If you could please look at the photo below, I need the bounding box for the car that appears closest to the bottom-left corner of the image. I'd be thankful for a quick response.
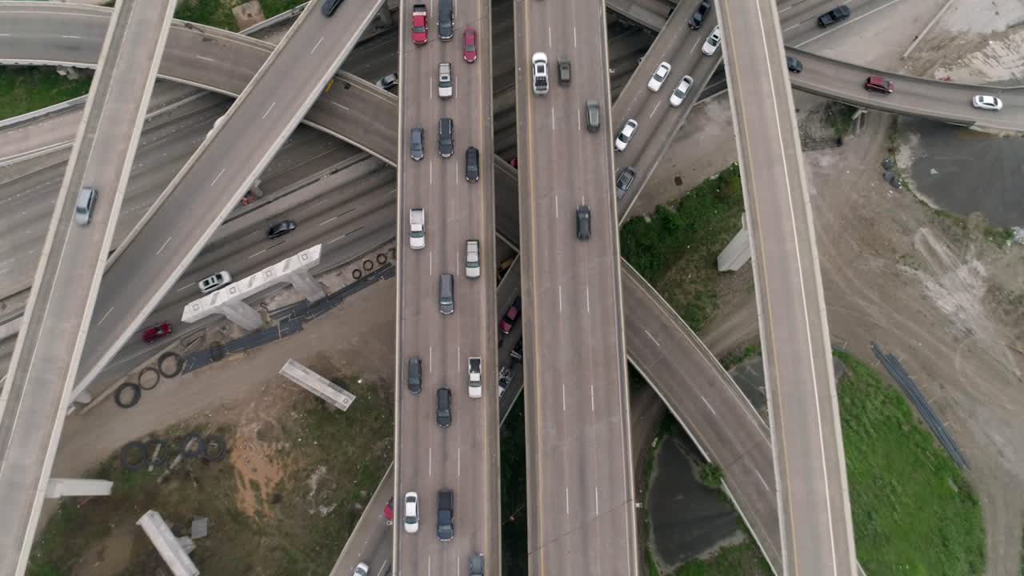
[142,321,174,342]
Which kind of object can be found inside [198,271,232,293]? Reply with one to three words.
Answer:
car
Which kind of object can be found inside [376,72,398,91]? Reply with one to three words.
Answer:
car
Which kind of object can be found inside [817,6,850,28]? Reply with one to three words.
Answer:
truck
